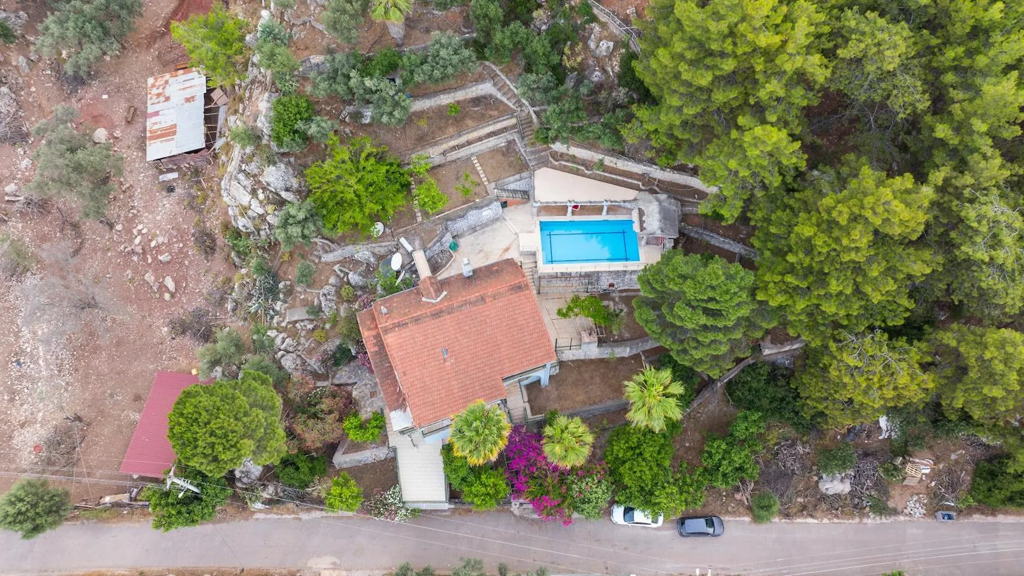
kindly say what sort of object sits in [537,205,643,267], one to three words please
swimming pool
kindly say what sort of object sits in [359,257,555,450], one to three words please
house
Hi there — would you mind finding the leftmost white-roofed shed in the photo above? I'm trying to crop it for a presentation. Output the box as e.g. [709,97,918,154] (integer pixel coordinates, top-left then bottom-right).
[146,69,226,179]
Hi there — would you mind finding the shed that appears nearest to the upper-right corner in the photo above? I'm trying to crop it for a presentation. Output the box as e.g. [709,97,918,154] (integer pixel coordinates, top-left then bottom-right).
[639,195,684,254]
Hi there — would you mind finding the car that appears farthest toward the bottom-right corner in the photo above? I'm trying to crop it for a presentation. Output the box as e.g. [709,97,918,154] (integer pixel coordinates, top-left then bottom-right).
[676,514,724,538]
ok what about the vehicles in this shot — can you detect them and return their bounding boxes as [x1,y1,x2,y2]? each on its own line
[611,503,662,528]
[676,514,724,538]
